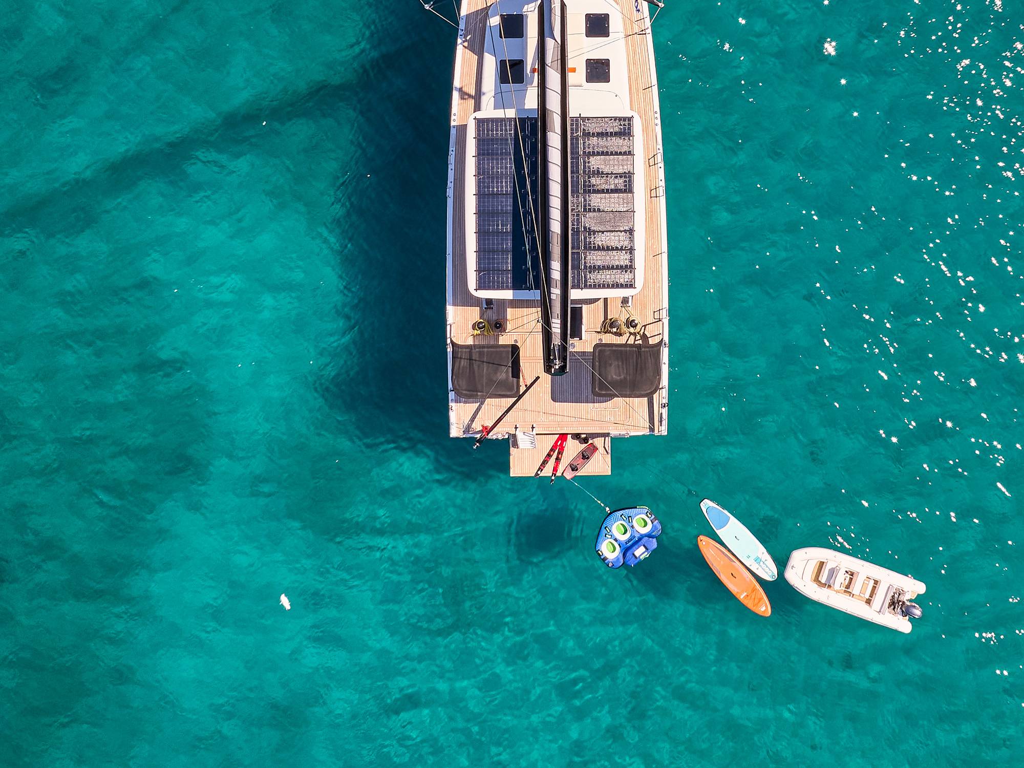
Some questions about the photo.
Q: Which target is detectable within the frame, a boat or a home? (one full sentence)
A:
Of the two, only a boat appears.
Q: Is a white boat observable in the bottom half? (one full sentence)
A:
Yes, in the bottom half there is a white boat.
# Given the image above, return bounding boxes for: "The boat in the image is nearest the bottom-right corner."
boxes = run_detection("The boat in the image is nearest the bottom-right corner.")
[785,547,930,634]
